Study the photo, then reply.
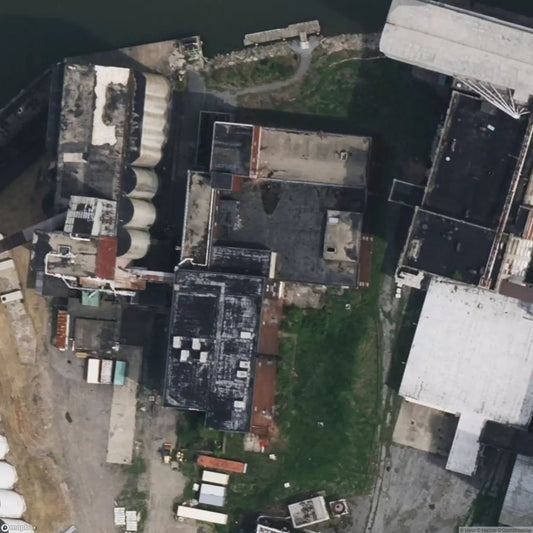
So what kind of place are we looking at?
industrial area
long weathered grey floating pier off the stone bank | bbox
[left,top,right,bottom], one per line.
[244,20,320,46]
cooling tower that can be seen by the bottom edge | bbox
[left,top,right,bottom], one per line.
[331,498,351,518]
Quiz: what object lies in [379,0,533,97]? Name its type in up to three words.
building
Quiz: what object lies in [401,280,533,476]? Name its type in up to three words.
warehouse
